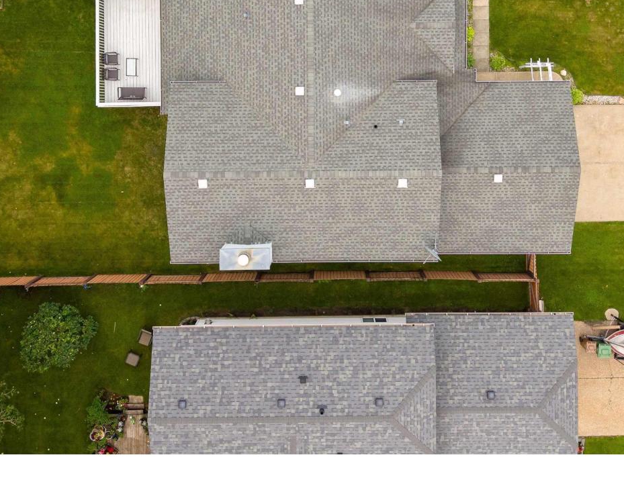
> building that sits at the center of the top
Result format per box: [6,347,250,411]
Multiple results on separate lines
[158,0,580,268]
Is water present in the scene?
No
